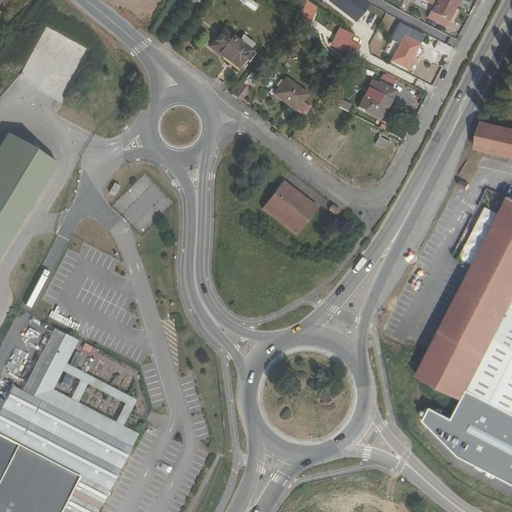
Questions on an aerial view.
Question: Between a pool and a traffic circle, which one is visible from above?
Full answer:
The image shows a traffic circle.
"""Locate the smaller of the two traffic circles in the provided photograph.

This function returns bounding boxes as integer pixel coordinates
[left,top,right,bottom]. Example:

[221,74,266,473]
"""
[143,90,218,164]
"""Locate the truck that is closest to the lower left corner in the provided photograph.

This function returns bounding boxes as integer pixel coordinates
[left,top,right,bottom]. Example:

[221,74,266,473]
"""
[26,268,49,308]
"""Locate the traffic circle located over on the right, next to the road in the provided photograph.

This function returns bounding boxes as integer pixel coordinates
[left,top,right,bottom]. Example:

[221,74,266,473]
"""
[243,331,372,460]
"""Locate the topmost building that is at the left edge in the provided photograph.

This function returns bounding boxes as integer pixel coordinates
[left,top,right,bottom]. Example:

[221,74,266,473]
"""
[0,132,57,254]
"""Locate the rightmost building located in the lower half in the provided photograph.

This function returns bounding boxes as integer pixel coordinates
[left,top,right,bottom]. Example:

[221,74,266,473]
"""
[468,304,512,413]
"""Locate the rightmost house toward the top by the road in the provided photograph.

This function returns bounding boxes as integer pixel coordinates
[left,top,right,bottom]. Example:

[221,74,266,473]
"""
[473,121,512,161]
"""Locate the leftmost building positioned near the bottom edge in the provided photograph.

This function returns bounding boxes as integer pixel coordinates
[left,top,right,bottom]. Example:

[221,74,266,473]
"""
[0,328,139,512]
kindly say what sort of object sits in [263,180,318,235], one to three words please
house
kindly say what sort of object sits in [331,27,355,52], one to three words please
building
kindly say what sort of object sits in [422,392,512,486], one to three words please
building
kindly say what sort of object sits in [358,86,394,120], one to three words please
house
